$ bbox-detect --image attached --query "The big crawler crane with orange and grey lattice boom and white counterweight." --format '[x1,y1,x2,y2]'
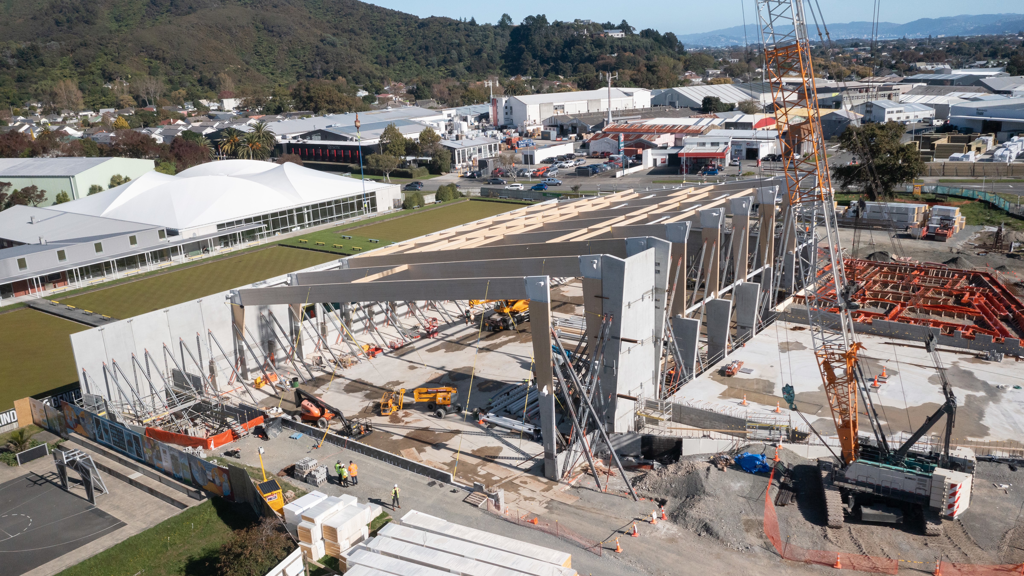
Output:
[754,0,989,550]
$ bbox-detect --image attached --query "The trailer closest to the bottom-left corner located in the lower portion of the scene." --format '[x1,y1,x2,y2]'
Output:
[253,424,288,521]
